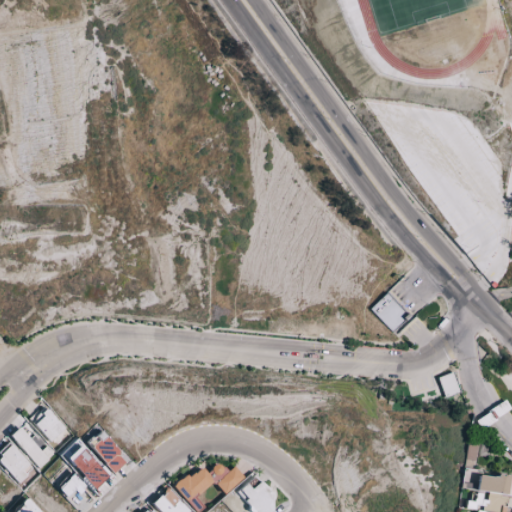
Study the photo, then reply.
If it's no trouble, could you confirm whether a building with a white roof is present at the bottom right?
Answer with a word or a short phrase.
Yes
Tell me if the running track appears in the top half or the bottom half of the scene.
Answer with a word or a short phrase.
top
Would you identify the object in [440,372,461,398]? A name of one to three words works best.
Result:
building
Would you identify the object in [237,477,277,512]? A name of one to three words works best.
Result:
house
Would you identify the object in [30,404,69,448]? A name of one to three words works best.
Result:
house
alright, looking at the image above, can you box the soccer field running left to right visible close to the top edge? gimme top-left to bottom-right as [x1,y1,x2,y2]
[368,0,480,38]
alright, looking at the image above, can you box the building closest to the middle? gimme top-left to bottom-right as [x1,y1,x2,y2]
[372,293,406,332]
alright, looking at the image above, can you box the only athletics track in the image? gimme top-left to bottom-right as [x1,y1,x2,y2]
[359,0,496,78]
